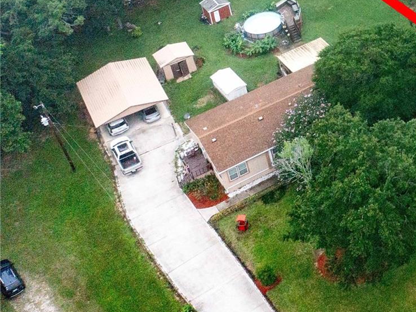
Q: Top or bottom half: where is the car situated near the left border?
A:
bottom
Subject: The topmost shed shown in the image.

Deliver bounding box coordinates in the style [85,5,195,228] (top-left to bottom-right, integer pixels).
[198,0,234,27]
